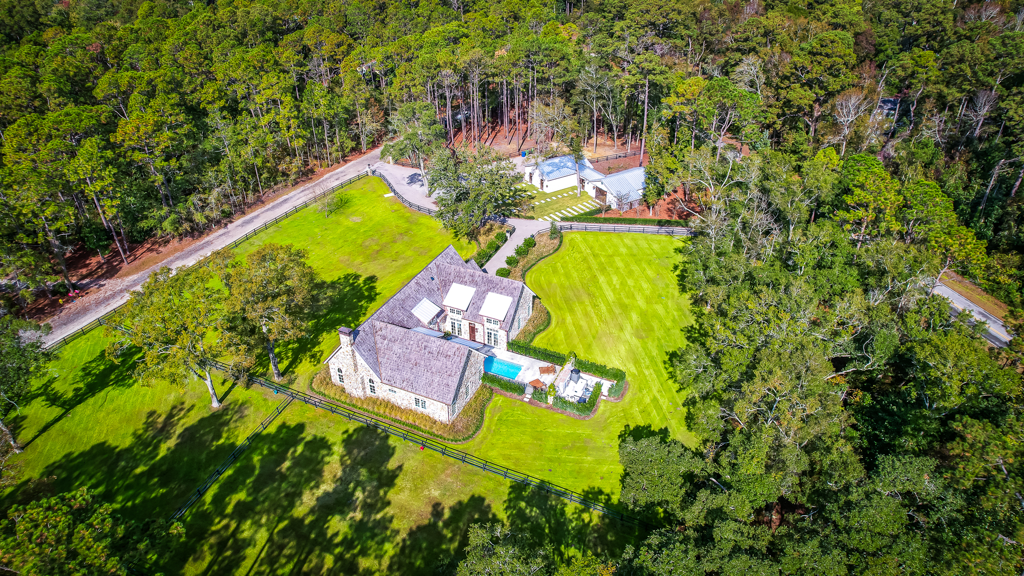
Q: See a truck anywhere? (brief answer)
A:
No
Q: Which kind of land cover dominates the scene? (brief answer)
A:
trees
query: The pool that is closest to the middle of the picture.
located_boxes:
[477,352,525,380]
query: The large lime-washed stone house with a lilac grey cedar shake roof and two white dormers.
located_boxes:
[321,245,537,421]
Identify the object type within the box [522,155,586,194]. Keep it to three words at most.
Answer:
building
